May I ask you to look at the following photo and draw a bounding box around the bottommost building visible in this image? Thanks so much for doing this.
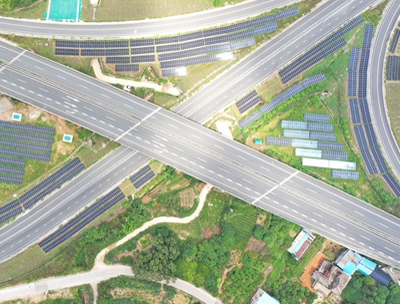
[245,286,280,304]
